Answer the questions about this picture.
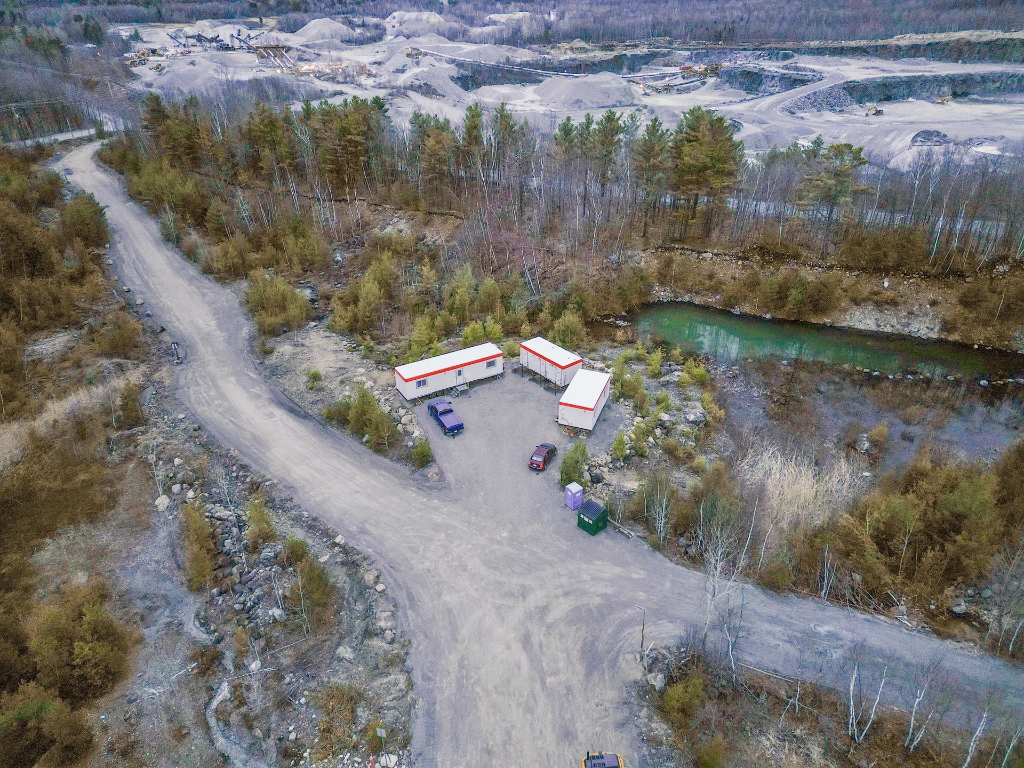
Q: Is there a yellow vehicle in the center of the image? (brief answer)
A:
No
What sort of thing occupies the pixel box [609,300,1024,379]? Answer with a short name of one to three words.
pond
